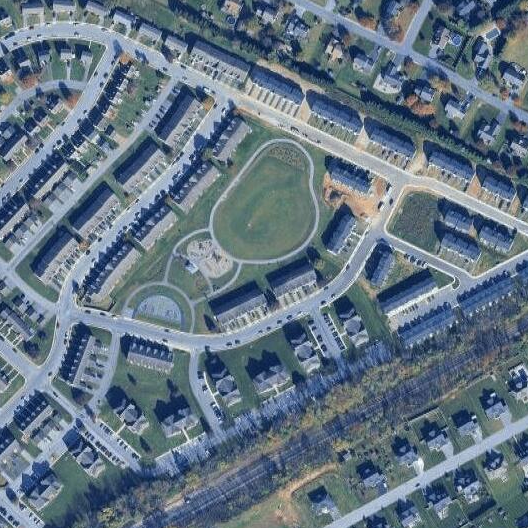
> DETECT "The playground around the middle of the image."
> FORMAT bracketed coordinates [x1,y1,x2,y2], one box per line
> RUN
[188,237,233,278]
